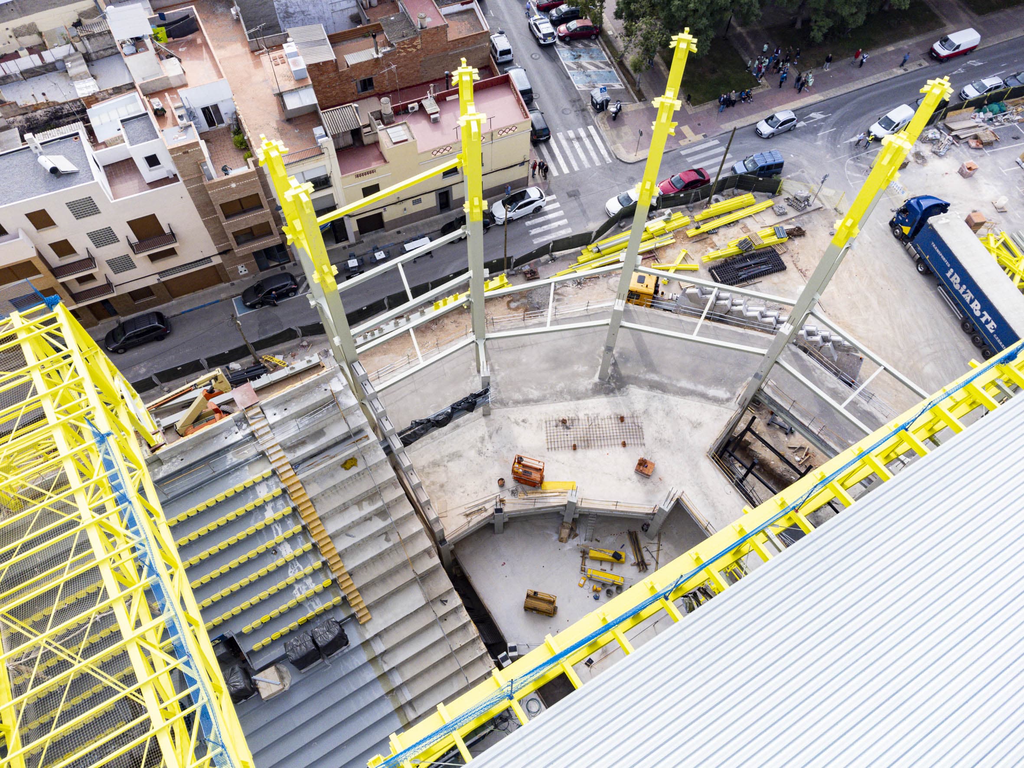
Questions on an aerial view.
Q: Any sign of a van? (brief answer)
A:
Yes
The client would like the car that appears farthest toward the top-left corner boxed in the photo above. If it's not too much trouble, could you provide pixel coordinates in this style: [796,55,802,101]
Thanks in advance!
[98,304,177,355]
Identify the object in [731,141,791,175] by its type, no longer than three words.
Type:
car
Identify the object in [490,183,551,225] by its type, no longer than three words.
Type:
car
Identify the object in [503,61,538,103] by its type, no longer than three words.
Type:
van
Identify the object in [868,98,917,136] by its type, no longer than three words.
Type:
van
